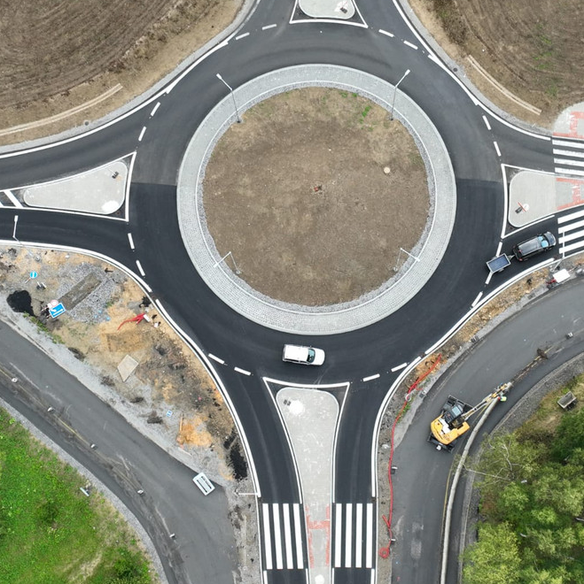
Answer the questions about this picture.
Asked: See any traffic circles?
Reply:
Yes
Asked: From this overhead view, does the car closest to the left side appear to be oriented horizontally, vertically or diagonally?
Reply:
horizontally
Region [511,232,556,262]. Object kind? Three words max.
car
